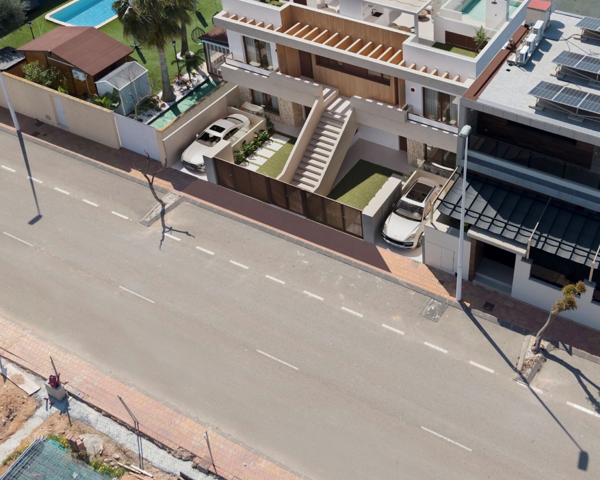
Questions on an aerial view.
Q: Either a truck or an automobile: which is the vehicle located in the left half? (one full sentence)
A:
The vehicle located in the left half appears to be an automobile.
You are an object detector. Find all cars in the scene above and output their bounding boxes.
[184,111,257,170]
[386,169,456,246]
